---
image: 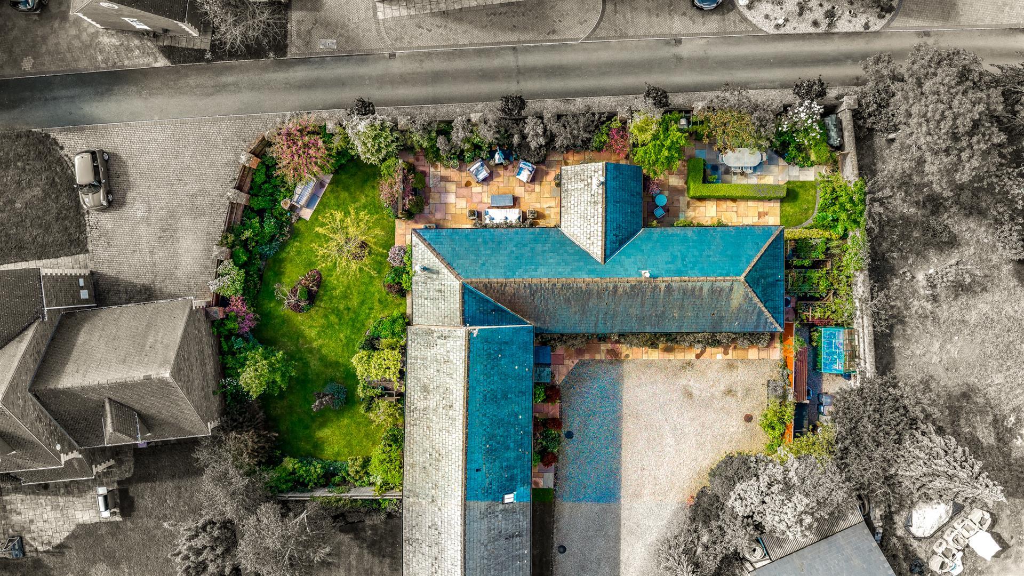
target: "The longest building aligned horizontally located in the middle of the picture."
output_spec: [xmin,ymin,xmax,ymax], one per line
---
[411,161,786,334]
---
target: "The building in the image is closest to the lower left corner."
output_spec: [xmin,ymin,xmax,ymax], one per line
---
[0,268,225,490]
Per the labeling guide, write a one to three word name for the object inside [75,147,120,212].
car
